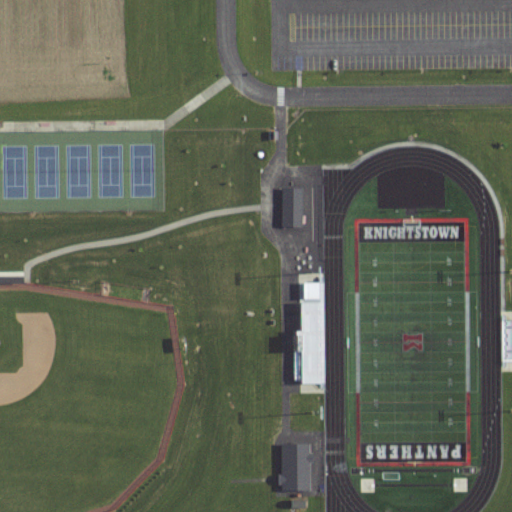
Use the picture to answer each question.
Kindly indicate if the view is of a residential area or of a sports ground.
sports ground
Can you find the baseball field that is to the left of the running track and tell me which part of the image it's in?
bottom left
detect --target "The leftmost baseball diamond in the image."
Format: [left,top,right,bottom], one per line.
[0,284,186,512]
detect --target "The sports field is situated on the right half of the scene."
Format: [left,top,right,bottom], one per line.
[344,174,481,512]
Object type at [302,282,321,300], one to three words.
building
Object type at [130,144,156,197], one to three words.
tennis court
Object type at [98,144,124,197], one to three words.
tennis court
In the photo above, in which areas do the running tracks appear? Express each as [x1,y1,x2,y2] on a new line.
[326,147,499,512]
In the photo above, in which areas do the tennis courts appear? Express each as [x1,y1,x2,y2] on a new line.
[98,144,124,197]
[130,144,156,197]
[2,146,27,198]
[34,145,60,198]
[64,145,90,198]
